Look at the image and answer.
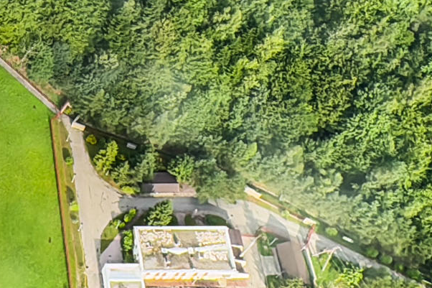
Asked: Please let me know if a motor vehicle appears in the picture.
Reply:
No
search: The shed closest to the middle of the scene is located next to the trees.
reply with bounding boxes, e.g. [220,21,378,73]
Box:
[141,173,180,198]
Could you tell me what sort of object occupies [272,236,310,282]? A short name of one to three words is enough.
shed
